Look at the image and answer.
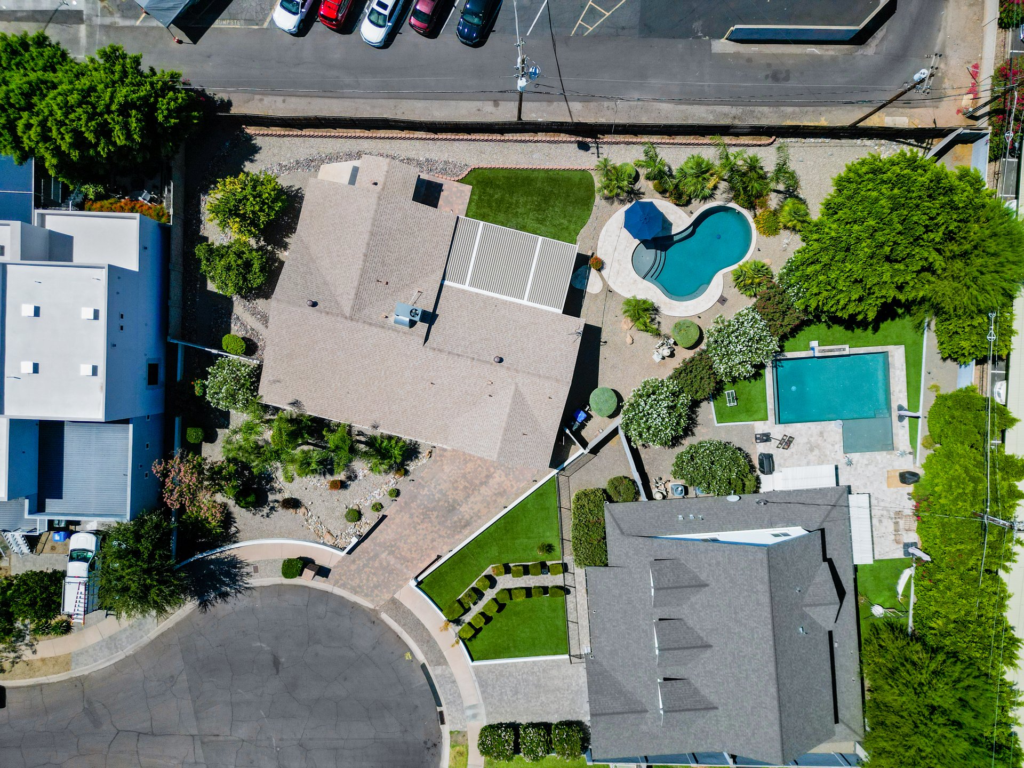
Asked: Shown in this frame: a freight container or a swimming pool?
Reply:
swimming pool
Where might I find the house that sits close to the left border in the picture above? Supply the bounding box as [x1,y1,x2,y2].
[0,210,168,535]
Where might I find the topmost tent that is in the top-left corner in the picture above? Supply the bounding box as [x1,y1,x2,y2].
[136,0,194,41]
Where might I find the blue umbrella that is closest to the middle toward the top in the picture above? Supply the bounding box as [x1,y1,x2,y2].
[624,200,664,241]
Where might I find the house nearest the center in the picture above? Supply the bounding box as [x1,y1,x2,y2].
[258,155,585,469]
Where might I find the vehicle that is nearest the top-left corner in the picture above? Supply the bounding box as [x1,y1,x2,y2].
[273,0,316,33]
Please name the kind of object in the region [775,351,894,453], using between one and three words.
swimming pool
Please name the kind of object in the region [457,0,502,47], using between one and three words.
car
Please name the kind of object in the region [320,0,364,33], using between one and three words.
car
